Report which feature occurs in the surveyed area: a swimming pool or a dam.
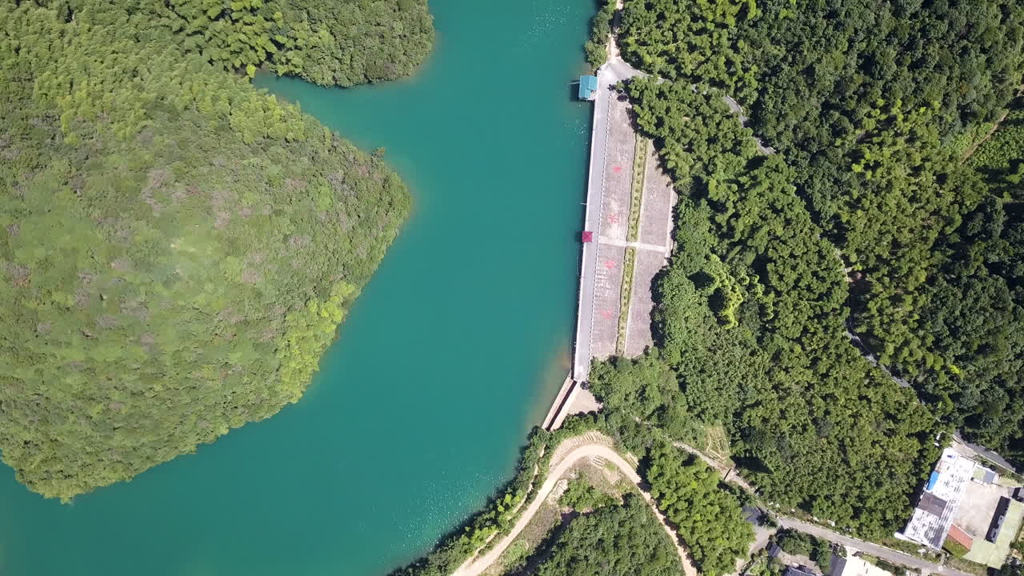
dam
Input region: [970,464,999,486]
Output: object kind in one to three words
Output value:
shed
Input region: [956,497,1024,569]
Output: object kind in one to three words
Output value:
building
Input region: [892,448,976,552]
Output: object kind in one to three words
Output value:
building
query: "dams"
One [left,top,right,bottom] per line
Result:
[572,94,680,382]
